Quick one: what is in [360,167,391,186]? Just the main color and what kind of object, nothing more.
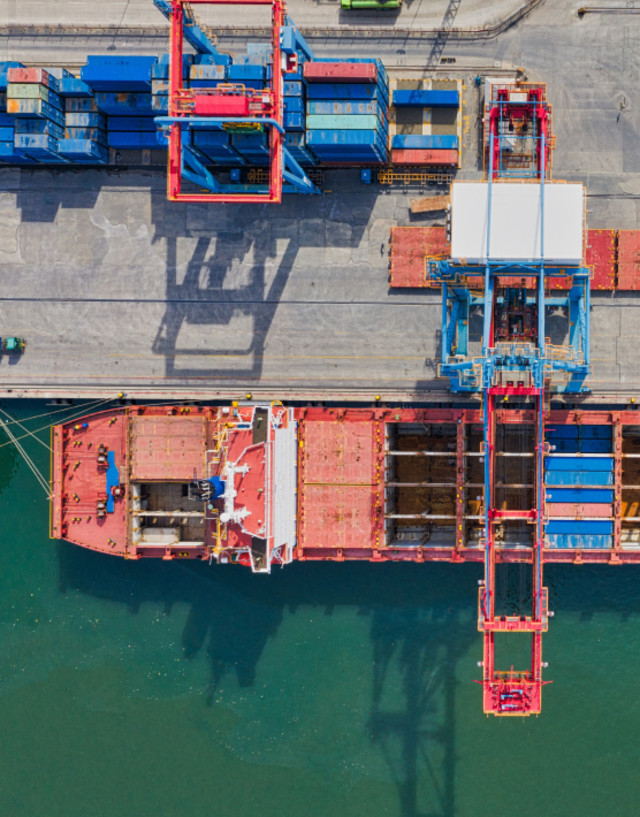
blue vehicle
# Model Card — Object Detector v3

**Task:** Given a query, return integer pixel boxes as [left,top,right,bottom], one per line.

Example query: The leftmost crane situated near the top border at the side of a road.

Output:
[147,0,329,204]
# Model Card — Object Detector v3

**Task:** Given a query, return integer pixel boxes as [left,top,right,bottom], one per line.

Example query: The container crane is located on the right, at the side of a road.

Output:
[429,81,599,720]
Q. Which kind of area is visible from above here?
port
